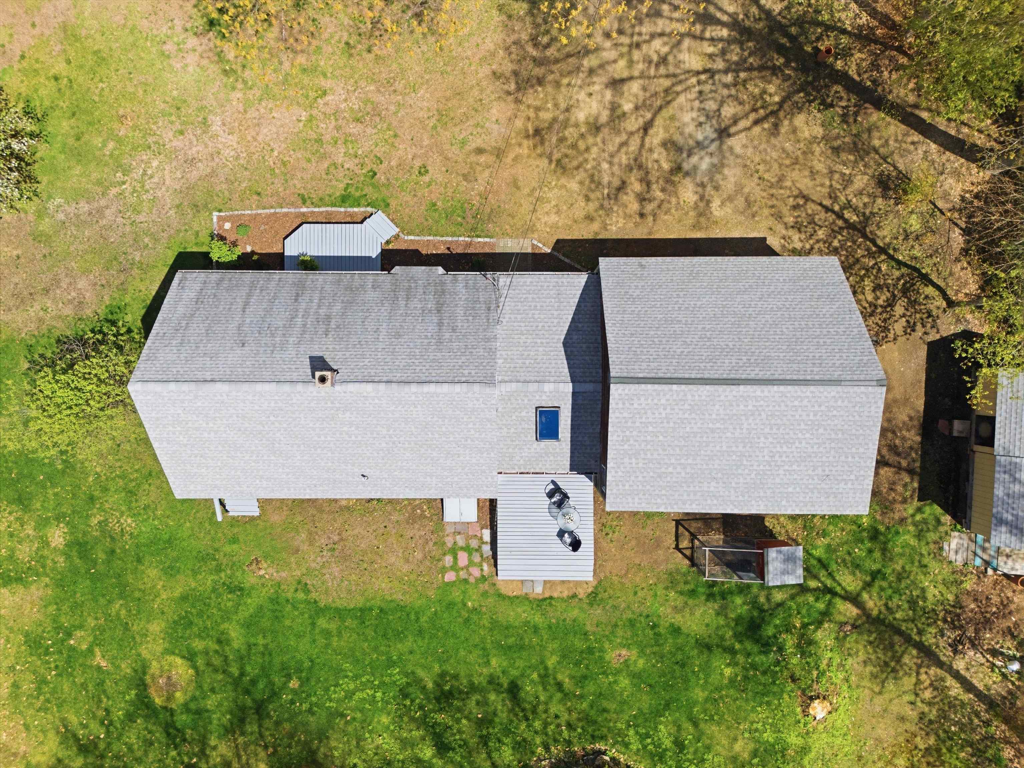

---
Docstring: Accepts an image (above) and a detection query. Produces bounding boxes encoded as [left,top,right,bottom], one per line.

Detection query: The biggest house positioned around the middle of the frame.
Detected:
[128,257,888,515]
